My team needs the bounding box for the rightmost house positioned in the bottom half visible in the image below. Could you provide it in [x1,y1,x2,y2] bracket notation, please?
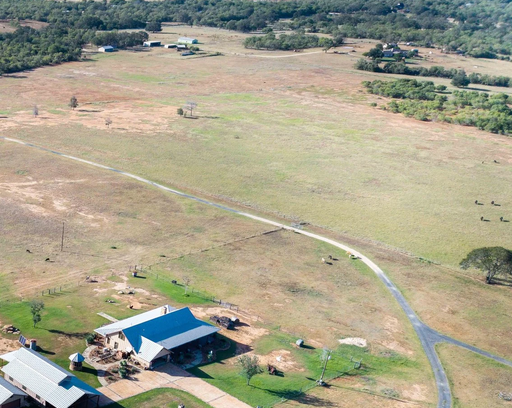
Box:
[94,304,219,369]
